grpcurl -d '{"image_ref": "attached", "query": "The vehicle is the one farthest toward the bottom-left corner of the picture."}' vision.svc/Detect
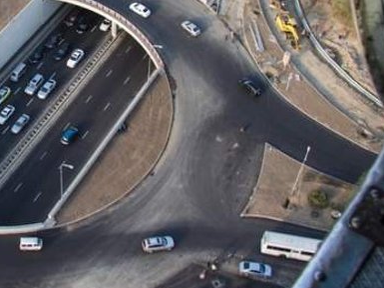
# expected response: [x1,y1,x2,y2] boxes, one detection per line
[19,235,43,252]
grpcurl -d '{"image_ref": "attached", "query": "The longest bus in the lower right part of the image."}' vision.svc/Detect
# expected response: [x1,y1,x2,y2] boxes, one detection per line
[257,227,319,259]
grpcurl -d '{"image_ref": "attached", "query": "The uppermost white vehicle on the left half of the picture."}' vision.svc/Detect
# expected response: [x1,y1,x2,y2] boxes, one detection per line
[128,5,151,19]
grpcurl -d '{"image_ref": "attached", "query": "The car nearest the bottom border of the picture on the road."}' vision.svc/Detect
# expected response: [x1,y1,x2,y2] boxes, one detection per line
[238,261,271,279]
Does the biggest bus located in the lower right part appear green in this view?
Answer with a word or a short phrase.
No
